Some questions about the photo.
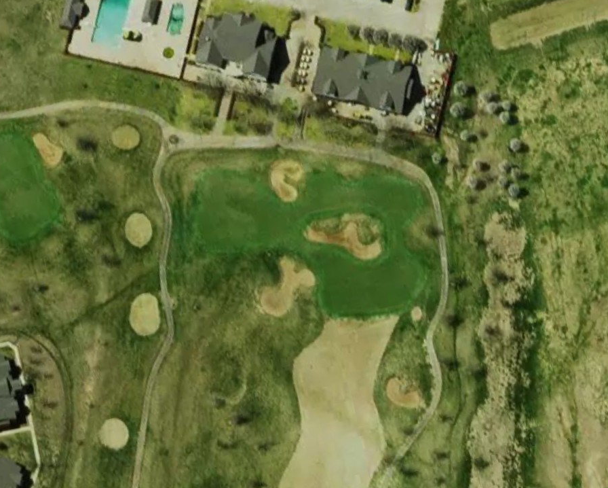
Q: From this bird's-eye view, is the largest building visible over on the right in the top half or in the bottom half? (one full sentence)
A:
Seen from above, the largest building visible over on the right lies in the top half of the view.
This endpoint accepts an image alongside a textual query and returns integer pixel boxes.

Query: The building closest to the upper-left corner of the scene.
[59,0,87,31]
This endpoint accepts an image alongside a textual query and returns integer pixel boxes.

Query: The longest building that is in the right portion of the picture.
[318,47,419,110]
